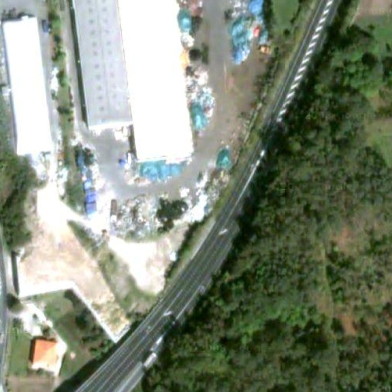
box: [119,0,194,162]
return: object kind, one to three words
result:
building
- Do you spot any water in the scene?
No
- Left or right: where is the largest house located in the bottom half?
left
